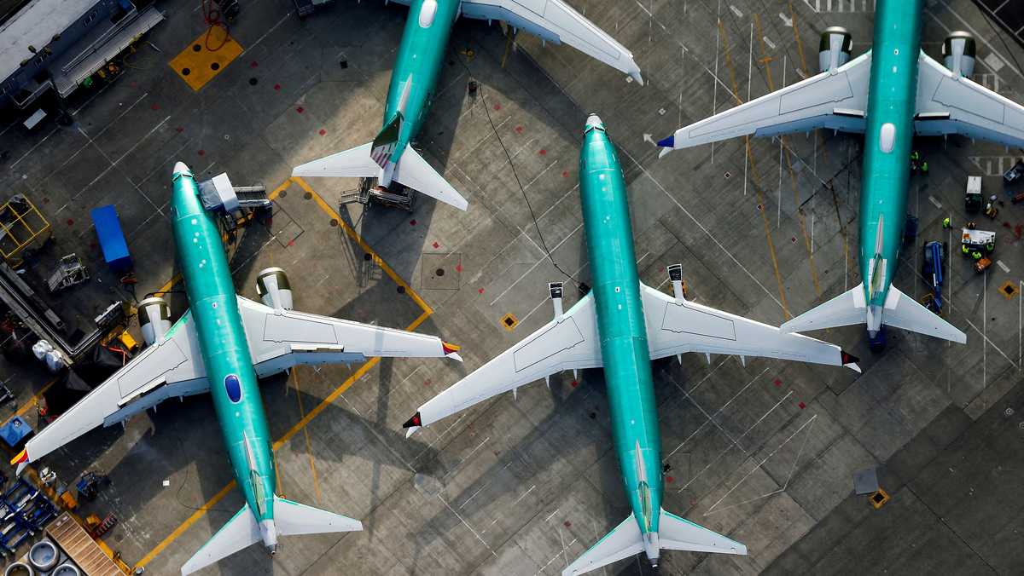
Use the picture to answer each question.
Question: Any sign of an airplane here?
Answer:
Yes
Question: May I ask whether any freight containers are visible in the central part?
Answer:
No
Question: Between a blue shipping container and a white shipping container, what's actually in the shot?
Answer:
blue shipping container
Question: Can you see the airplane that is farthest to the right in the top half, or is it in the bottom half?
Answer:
top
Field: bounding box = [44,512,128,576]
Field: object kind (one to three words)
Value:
trailer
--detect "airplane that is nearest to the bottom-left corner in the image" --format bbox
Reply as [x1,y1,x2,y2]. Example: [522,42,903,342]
[13,162,463,576]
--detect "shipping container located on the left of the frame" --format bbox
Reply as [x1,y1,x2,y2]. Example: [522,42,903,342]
[92,205,132,277]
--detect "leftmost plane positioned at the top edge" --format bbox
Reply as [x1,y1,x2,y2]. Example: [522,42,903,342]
[292,0,643,210]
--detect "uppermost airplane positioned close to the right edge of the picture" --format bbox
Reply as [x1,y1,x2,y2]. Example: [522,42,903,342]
[657,0,1024,344]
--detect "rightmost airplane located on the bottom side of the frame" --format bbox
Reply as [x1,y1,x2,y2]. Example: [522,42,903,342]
[401,116,861,576]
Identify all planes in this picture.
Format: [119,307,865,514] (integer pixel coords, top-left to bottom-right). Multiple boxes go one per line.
[13,162,463,576]
[292,0,643,210]
[657,0,1024,344]
[401,116,861,576]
